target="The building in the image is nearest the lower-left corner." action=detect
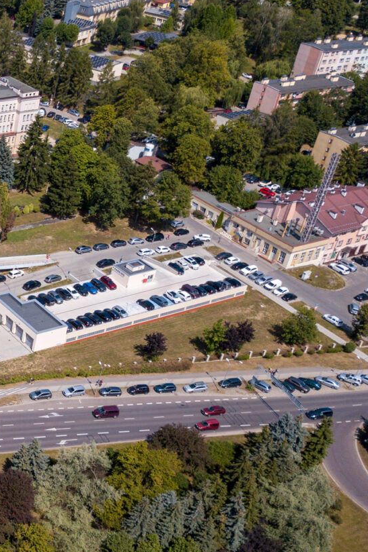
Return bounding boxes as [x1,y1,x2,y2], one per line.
[0,291,68,351]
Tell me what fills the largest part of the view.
trees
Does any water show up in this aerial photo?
No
